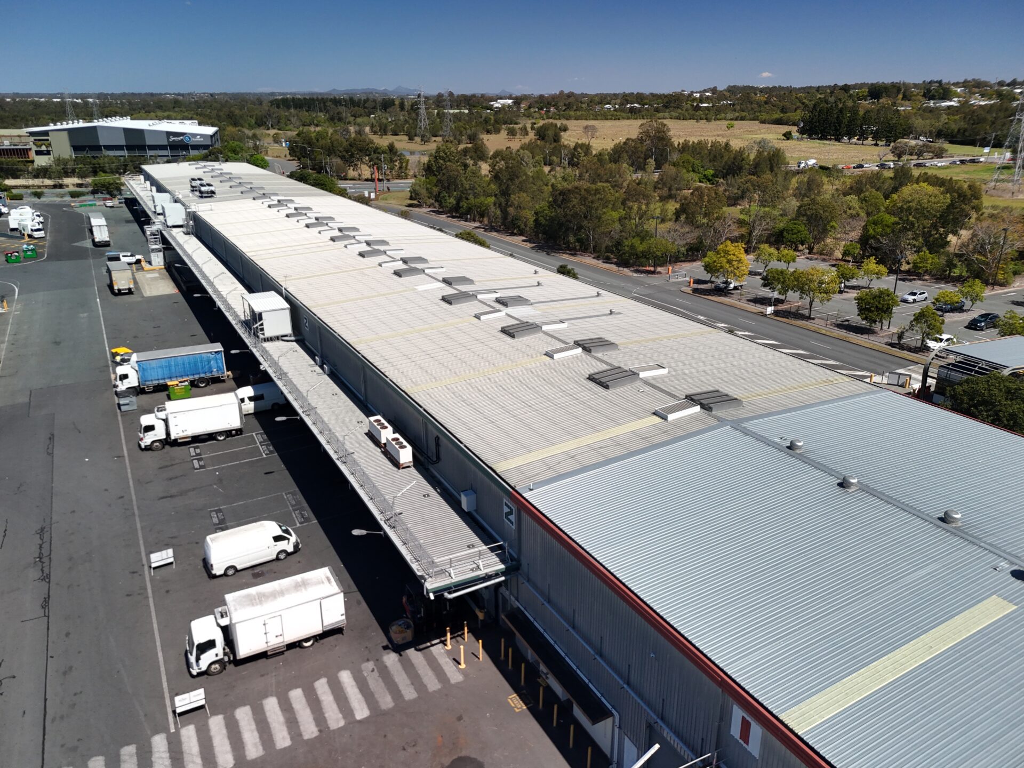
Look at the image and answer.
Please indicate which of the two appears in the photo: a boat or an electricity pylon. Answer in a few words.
electricity pylon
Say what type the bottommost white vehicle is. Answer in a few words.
truck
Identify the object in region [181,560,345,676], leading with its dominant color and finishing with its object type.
white truck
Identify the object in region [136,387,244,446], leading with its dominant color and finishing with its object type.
white truck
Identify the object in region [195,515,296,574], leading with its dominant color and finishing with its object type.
white van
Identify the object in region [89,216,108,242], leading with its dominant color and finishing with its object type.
white vehicle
